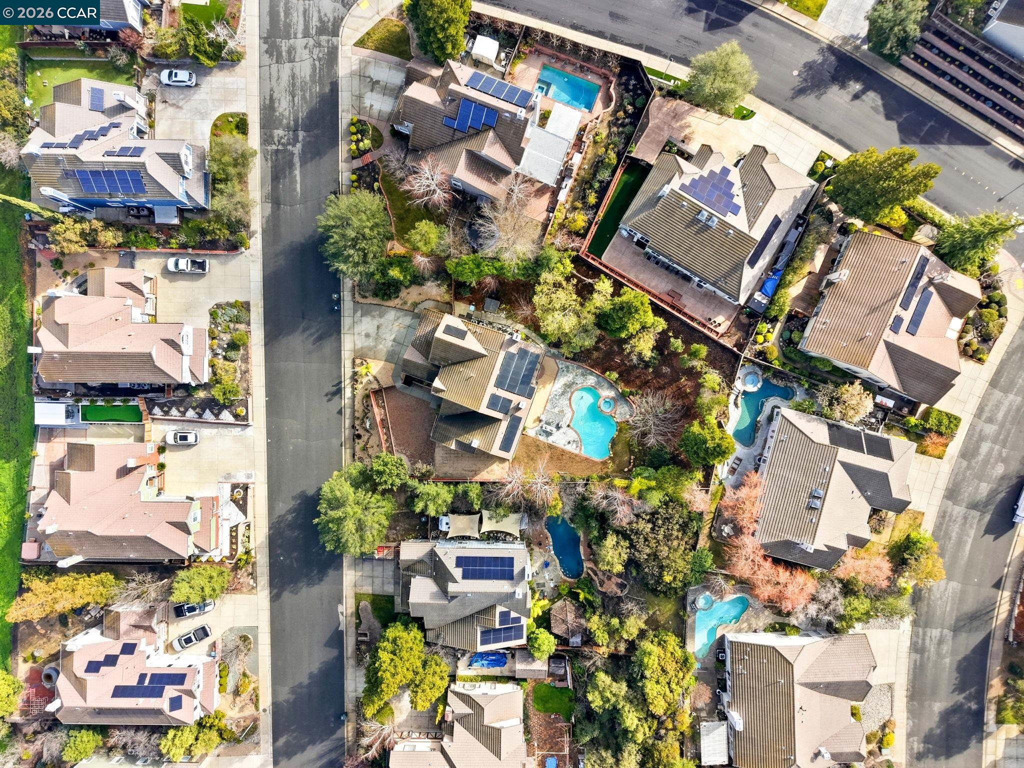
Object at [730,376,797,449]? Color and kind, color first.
blue swimming pool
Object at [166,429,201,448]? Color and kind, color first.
white car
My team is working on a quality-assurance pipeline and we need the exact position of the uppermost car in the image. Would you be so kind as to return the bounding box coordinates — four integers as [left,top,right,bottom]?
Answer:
[161,68,197,87]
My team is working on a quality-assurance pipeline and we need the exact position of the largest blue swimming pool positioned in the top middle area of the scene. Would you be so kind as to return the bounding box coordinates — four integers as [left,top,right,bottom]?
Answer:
[531,61,605,116]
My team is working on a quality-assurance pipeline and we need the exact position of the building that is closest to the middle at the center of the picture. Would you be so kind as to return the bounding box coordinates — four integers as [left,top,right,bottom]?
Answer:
[398,308,547,460]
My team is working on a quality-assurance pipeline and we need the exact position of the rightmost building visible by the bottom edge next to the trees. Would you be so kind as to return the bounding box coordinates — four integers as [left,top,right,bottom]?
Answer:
[712,625,877,768]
